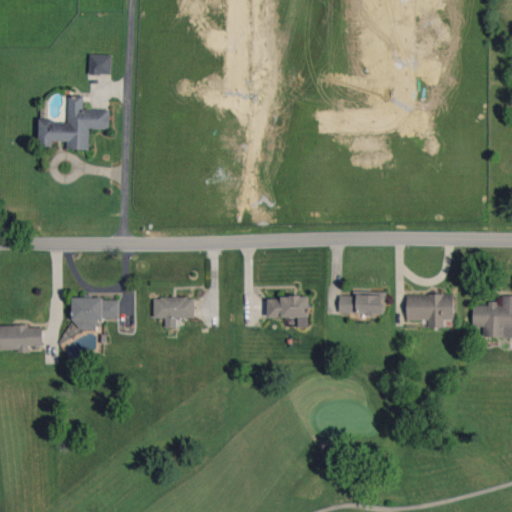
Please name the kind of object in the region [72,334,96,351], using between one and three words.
swimming pool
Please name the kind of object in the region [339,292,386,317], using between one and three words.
house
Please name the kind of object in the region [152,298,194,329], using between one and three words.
house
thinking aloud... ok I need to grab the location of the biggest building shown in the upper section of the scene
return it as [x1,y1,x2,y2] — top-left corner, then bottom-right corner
[38,98,108,150]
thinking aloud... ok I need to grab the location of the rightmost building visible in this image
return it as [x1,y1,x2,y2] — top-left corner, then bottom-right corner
[474,295,512,338]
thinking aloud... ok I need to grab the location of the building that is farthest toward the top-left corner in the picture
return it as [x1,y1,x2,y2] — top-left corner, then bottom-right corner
[88,54,112,74]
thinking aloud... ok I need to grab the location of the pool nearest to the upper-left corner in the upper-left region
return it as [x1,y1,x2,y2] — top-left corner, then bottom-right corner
[49,92,62,118]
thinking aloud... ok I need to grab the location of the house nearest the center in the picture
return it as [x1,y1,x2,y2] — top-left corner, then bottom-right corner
[267,296,309,328]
